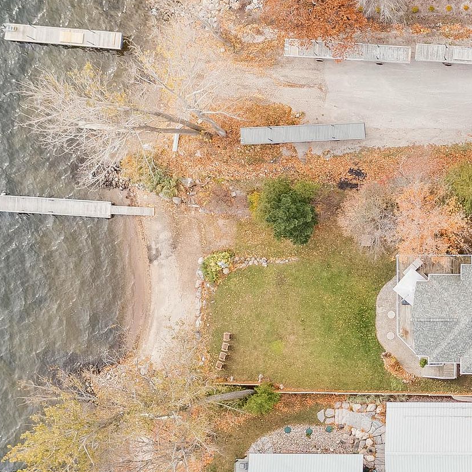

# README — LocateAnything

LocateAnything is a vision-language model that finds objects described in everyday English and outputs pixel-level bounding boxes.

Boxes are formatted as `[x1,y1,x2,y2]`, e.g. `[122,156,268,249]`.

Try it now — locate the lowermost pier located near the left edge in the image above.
[0,196,112,217]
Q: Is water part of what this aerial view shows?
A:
Yes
